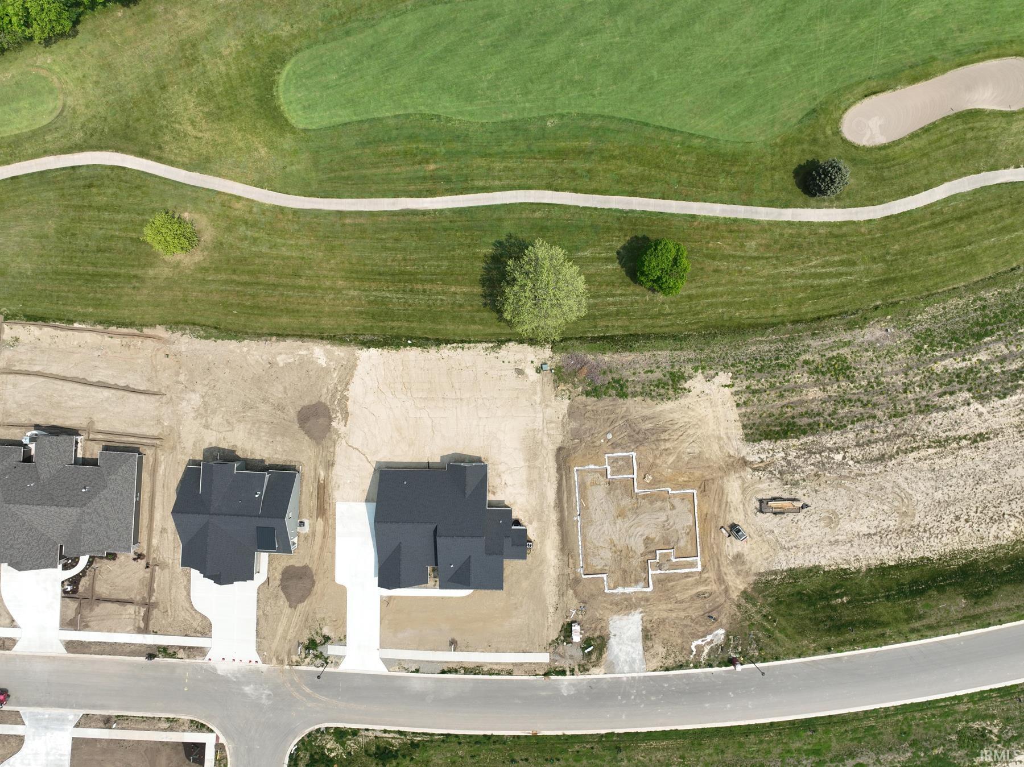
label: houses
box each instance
[171,461,300,586]
[0,435,141,573]
[375,464,527,590]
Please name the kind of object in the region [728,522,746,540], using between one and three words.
work vehicle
